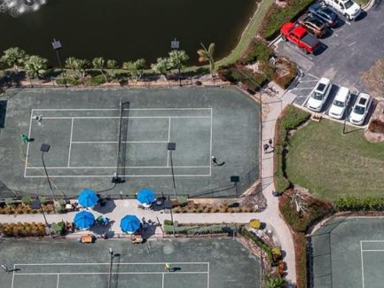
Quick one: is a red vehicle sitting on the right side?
Yes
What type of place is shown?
sports ground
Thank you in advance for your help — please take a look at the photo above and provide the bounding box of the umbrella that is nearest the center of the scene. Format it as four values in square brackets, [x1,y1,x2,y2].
[137,192,156,209]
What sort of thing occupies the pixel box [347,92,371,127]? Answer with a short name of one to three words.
car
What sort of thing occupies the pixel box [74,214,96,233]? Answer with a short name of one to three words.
umbrella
